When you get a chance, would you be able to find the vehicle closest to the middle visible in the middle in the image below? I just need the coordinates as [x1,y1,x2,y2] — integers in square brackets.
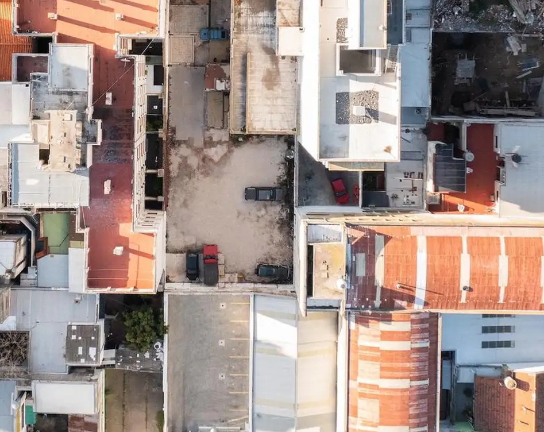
[243,185,282,203]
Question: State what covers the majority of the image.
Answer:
buildings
